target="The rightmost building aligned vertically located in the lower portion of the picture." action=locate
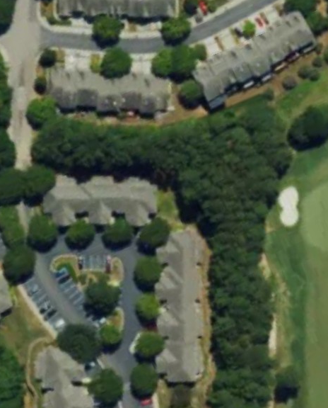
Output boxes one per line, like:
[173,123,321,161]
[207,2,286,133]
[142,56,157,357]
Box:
[156,228,203,384]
